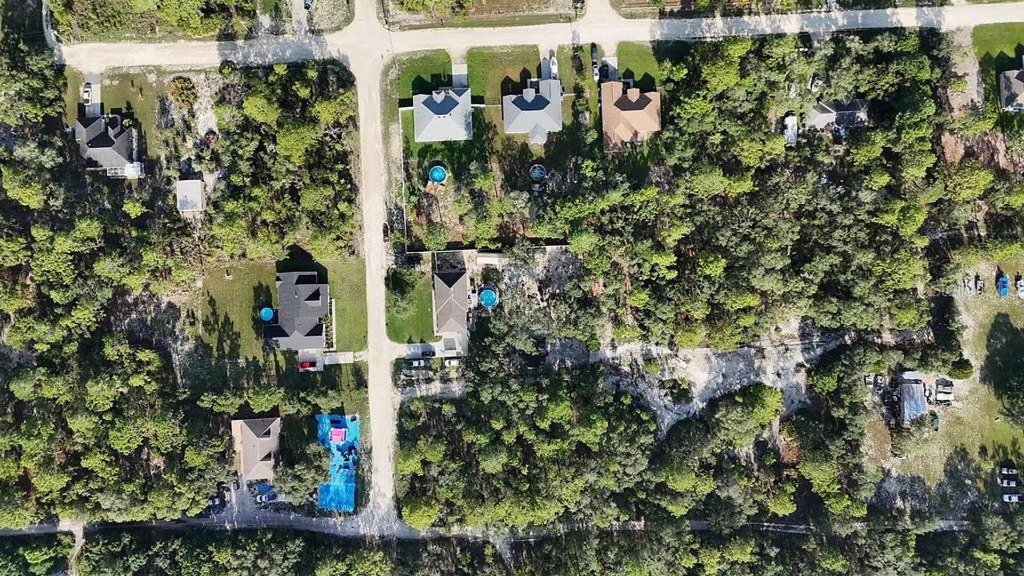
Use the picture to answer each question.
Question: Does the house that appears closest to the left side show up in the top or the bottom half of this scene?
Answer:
top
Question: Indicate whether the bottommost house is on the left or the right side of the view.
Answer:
left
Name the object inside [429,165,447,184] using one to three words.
swimming pool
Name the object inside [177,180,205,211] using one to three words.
shed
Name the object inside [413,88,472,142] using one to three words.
house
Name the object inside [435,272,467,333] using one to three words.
house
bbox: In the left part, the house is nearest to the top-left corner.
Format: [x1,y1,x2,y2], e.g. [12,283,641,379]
[75,116,137,168]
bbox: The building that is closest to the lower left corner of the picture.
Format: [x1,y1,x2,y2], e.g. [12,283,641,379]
[240,418,282,480]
